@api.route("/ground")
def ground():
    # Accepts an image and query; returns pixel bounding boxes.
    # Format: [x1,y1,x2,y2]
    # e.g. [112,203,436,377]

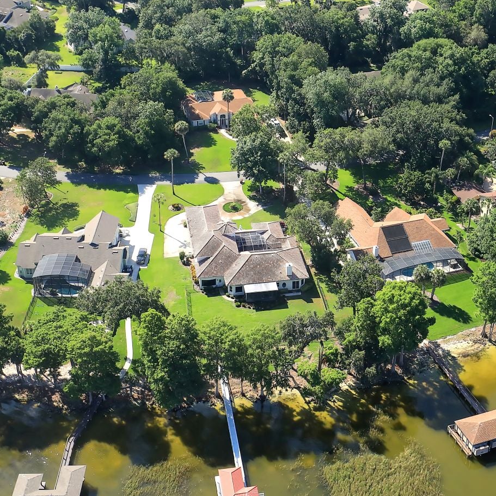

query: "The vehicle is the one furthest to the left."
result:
[136,245,149,262]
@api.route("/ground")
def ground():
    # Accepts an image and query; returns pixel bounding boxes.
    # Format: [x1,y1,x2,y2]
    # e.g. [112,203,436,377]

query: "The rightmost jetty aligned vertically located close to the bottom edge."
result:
[217,377,251,486]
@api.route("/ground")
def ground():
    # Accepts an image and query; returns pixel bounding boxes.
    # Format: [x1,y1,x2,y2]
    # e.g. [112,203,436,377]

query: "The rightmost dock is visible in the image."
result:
[420,338,492,414]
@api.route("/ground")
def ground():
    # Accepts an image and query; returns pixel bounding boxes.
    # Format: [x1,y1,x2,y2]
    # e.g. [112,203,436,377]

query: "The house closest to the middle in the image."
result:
[186,199,309,307]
